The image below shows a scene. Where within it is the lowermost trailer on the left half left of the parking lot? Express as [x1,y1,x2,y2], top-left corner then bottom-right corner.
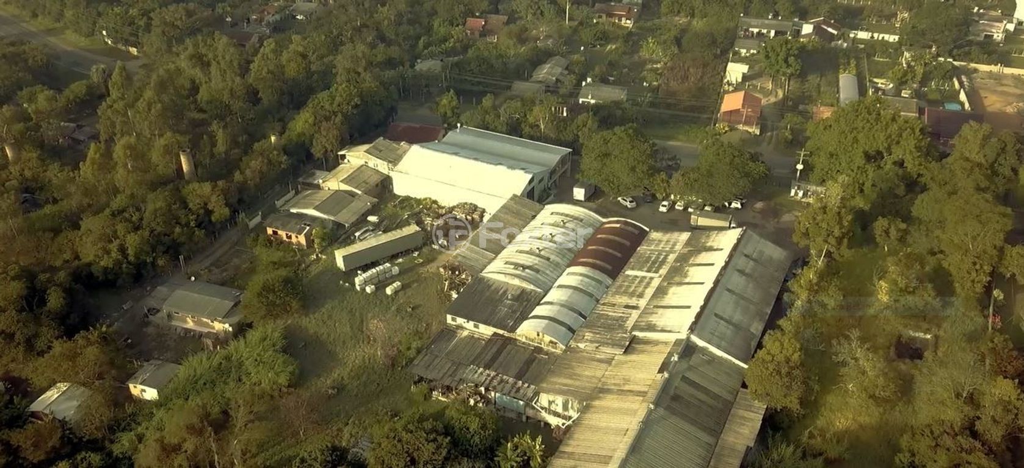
[335,224,423,276]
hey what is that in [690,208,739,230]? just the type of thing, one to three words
truck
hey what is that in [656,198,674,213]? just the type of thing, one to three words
car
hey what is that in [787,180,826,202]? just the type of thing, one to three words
building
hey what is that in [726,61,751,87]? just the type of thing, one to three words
shed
